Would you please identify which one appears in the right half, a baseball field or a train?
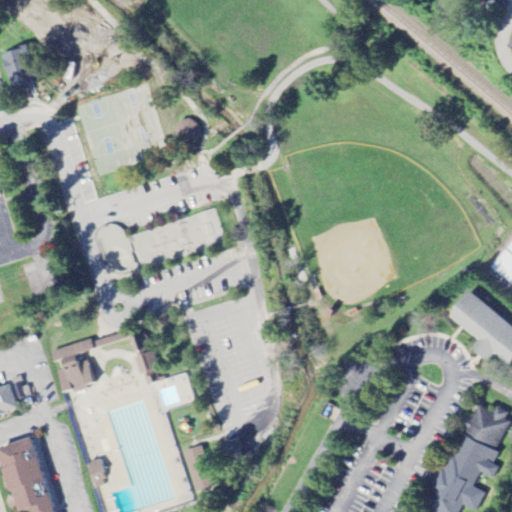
baseball field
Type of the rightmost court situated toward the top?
basketball court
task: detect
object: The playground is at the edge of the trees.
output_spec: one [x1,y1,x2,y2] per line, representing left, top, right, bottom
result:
[175,415,199,439]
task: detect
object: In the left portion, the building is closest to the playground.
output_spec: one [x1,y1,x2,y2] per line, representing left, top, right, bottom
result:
[184,445,208,494]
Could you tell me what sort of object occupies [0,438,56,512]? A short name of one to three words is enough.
building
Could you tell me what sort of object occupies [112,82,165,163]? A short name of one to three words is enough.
basketball court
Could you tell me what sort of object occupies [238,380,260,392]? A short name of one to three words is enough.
vehicle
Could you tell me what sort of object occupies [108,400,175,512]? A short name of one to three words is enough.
swimming pool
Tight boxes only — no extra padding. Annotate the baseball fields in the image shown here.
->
[314,218,396,304]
